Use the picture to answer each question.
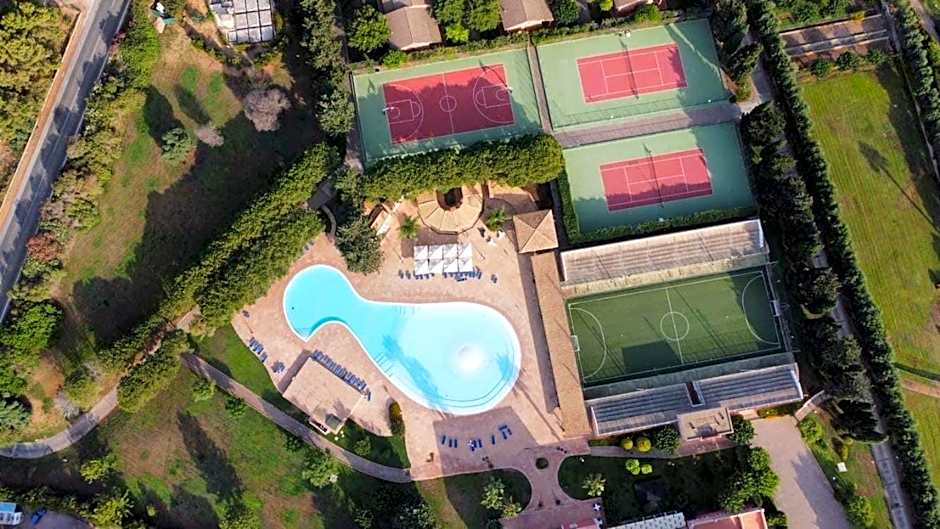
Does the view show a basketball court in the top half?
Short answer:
Yes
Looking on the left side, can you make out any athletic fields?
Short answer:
No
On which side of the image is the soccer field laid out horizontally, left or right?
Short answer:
right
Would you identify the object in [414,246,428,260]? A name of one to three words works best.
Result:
umbrella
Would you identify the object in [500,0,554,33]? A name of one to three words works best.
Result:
house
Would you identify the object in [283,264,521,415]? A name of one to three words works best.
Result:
swimming pool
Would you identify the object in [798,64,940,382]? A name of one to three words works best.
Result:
sports field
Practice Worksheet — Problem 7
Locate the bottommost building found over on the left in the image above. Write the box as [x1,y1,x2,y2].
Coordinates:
[284,359,364,433]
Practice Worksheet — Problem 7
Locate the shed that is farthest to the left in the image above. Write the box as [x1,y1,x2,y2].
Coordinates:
[152,2,176,31]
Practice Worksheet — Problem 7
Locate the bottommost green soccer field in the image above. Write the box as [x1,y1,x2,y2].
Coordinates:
[566,264,791,386]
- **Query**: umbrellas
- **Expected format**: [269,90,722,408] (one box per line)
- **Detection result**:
[458,245,472,259]
[429,260,442,274]
[442,259,457,274]
[429,245,442,260]
[442,245,457,260]
[414,260,428,274]
[458,259,472,274]
[414,246,428,260]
